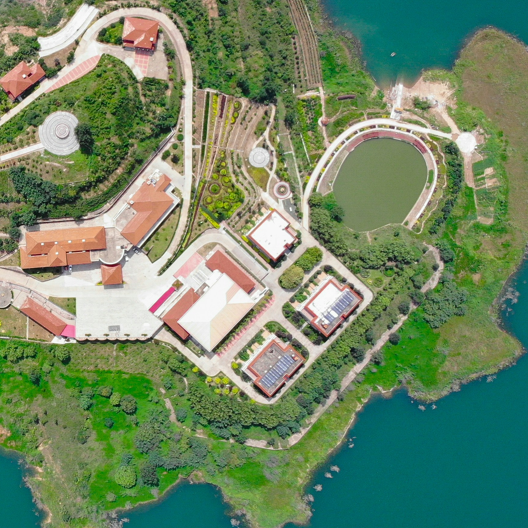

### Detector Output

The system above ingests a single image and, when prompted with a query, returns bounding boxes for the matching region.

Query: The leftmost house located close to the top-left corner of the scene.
[0,61,46,100]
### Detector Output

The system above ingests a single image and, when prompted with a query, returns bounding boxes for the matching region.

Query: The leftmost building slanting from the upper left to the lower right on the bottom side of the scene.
[20,298,66,336]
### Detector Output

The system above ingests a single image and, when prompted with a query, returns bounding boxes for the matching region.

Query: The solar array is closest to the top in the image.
[324,292,353,325]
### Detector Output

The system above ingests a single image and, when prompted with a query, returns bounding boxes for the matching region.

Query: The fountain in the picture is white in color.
[273,181,291,199]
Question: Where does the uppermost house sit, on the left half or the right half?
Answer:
left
